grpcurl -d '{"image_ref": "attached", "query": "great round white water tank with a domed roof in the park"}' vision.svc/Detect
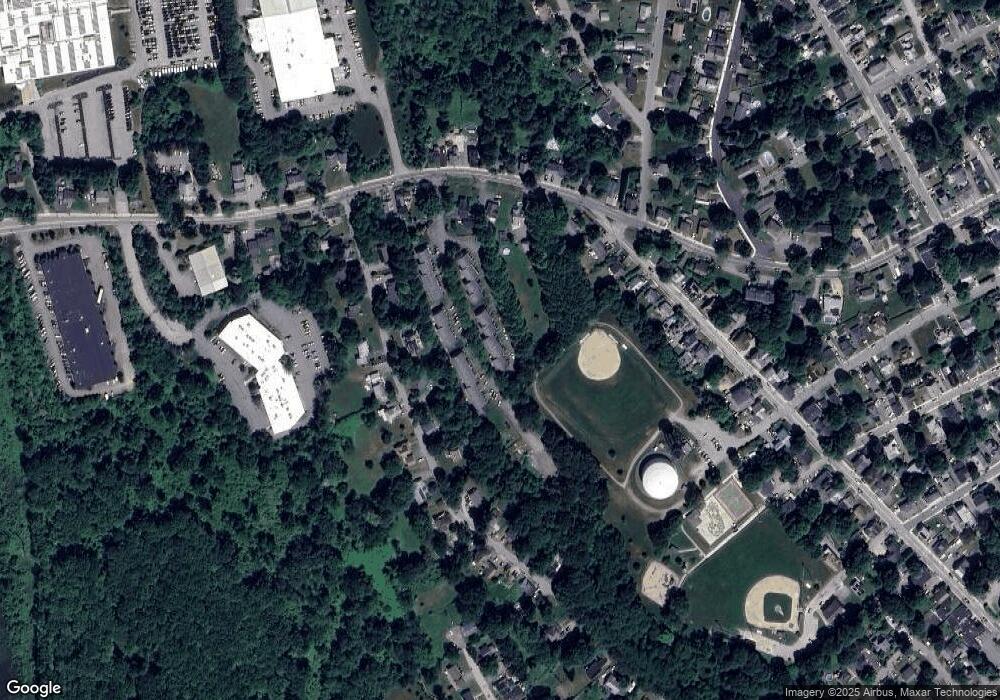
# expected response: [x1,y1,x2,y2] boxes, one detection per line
[634,455,687,508]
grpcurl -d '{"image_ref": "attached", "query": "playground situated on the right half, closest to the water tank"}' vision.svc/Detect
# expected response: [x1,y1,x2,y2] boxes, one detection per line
[697,496,737,545]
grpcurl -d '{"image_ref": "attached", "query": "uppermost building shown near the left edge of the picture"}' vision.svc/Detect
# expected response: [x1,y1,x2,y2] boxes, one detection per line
[0,0,116,85]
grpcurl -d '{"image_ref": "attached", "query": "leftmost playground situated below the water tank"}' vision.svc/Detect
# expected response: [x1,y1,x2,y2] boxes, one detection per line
[643,562,682,606]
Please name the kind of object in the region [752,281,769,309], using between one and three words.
house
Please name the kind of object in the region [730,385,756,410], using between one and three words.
house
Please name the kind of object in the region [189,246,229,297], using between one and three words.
building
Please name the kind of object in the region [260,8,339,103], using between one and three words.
building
